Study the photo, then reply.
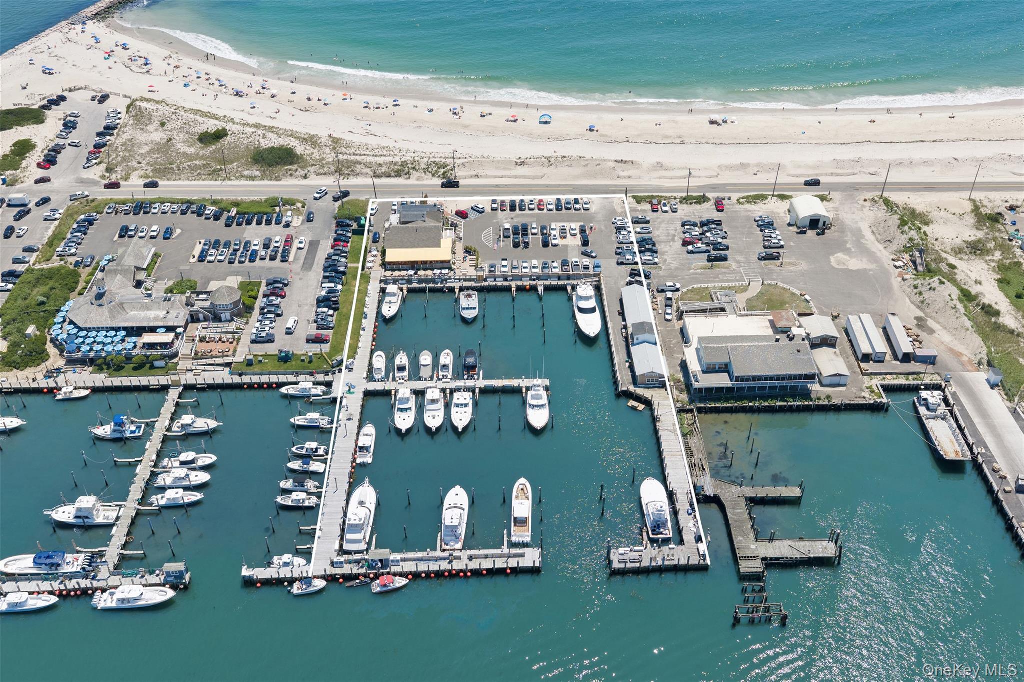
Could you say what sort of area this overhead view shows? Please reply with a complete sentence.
The picture captures a port.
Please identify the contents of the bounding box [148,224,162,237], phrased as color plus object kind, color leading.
white vehicle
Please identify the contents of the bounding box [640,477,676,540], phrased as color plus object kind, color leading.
white boat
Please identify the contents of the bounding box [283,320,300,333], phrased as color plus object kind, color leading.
white vehicle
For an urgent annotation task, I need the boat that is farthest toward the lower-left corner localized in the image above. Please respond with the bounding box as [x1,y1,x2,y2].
[0,594,59,616]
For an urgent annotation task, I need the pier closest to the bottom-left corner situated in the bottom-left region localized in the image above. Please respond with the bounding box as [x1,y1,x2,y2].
[0,571,188,597]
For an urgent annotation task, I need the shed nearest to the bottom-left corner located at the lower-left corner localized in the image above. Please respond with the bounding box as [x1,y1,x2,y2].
[163,564,186,582]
